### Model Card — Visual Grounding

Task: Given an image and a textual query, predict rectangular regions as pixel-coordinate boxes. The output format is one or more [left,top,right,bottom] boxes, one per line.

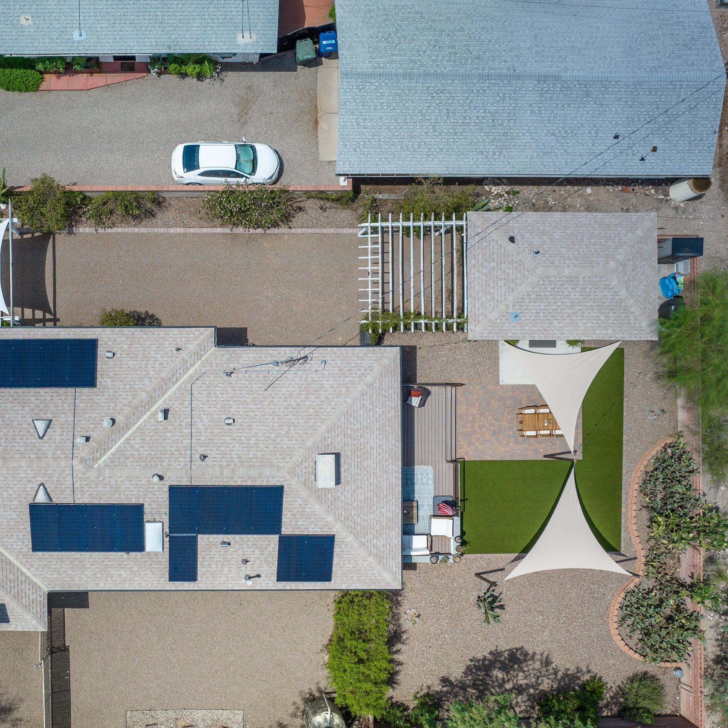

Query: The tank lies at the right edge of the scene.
[665,177,712,207]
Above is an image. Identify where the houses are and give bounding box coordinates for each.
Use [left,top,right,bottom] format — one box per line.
[0,324,404,630]
[0,0,279,63]
[455,211,658,341]
[334,0,726,192]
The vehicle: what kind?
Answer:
car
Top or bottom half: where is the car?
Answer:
top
